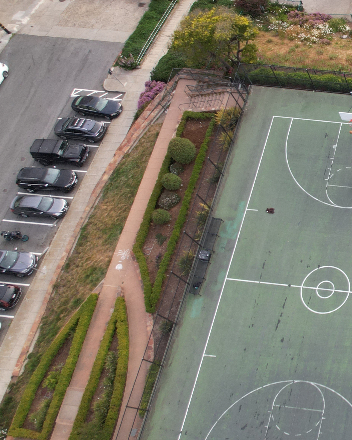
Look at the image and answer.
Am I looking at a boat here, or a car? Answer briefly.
car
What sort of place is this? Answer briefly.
sports ground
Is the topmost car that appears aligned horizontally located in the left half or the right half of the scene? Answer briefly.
left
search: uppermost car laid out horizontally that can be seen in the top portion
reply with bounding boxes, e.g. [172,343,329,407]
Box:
[70,95,125,121]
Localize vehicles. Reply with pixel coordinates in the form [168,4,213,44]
[30,138,91,168]
[70,95,125,121]
[0,230,31,242]
[0,249,40,278]
[10,193,71,222]
[14,165,79,195]
[0,60,12,86]
[53,116,109,143]
[0,285,24,313]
